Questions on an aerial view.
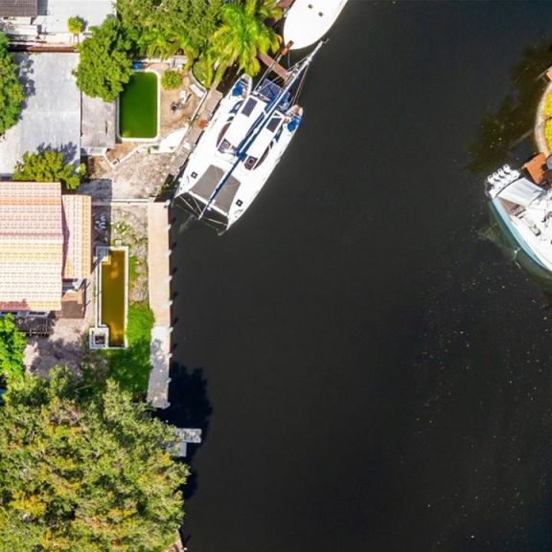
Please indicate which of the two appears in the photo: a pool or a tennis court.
pool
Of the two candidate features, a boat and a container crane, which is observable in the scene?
boat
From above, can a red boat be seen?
No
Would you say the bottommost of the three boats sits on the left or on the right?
right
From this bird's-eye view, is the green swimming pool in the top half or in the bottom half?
top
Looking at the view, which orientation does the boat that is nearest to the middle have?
on a diagonal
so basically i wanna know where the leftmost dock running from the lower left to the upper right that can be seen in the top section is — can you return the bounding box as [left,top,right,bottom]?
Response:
[154,87,220,181]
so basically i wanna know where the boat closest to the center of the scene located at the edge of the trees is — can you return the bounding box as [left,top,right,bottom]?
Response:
[174,61,323,230]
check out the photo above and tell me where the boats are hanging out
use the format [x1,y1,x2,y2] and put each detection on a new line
[489,159,552,267]
[281,0,344,55]
[174,61,323,230]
